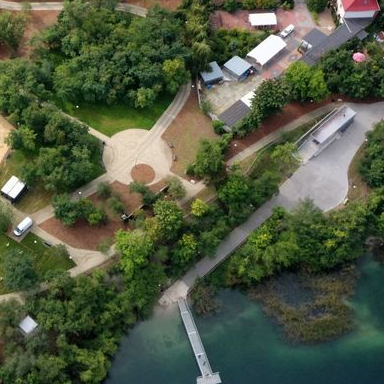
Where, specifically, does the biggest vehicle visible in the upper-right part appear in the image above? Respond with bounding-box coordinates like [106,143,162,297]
[280,21,295,36]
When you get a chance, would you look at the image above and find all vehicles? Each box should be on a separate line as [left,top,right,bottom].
[13,213,33,235]
[280,21,295,36]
